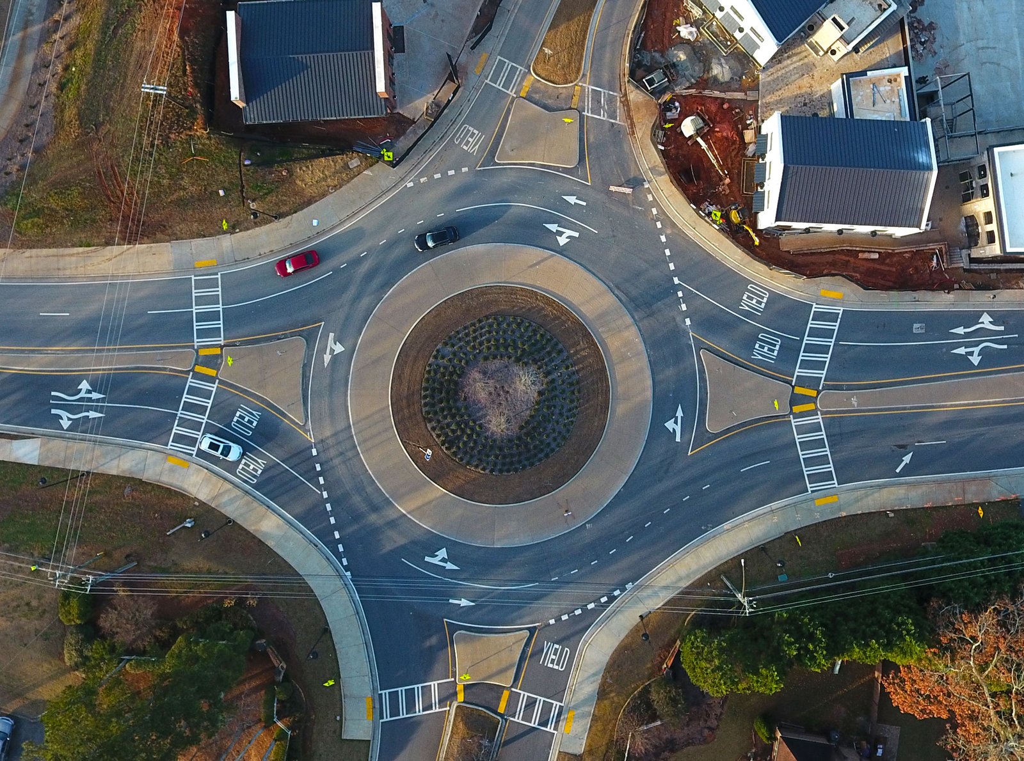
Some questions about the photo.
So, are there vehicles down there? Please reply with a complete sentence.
Yes, this view includes a vehicle.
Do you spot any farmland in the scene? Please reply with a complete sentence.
No, there's no farmland in this view.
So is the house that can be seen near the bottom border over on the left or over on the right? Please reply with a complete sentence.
The house that can be seen near the bottom border is on the right side of the image.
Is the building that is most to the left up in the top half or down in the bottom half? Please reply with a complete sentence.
The top half of the photo is where the building that is most to the left is.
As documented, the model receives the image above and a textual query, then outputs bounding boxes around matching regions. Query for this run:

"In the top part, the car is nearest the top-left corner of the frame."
[274,249,319,275]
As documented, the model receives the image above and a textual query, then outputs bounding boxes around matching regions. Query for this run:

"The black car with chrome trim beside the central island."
[414,224,459,251]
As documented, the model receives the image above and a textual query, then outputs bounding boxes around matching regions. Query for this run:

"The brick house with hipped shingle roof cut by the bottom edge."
[762,723,840,761]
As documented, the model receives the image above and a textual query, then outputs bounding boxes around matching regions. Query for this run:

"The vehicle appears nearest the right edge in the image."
[729,210,760,247]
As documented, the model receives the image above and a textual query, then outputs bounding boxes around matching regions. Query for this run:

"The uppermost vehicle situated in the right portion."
[642,63,670,89]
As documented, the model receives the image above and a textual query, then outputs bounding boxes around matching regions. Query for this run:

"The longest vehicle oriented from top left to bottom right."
[676,116,729,180]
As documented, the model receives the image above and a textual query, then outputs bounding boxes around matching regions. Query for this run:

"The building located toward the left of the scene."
[221,0,400,130]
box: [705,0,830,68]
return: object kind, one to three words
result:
building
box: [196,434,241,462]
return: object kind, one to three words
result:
car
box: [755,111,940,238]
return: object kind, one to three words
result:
building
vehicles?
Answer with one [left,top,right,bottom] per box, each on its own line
[676,116,729,180]
[0,716,13,759]
[274,249,319,275]
[729,210,760,247]
[414,224,459,251]
[196,434,241,462]
[642,63,670,89]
